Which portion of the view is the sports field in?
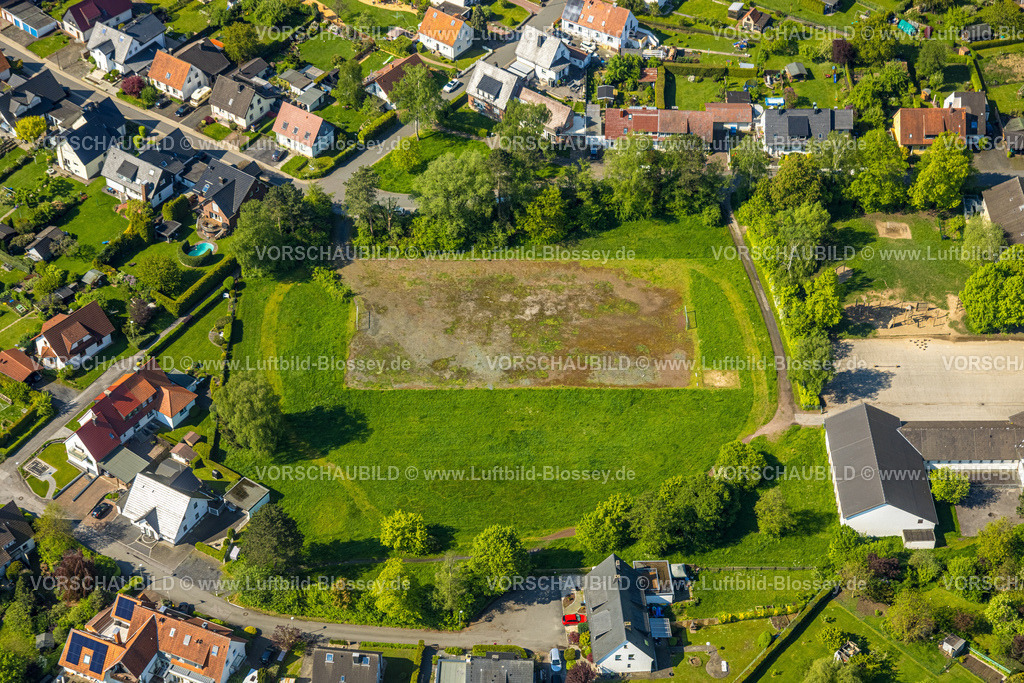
center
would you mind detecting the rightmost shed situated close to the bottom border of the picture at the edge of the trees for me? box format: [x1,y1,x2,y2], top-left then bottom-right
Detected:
[943,633,966,658]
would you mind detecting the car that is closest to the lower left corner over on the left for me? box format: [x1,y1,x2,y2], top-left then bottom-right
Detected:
[90,504,110,520]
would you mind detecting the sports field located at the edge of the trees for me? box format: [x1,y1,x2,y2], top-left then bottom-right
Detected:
[346,259,695,391]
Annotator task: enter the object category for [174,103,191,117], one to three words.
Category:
car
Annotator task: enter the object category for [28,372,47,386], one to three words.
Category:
car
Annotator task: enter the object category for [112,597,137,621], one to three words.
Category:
solar panel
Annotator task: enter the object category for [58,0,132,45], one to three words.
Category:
house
